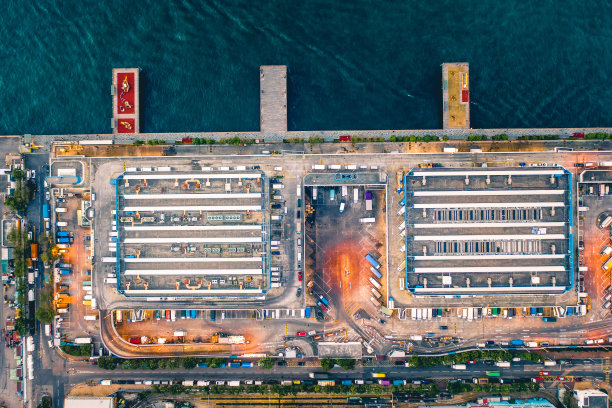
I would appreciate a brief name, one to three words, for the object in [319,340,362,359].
building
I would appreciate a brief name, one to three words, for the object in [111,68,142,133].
pier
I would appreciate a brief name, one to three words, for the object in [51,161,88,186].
house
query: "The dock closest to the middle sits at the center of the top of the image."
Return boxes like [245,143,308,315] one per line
[260,66,287,132]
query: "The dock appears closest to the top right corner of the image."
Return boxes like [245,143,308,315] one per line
[440,63,469,130]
